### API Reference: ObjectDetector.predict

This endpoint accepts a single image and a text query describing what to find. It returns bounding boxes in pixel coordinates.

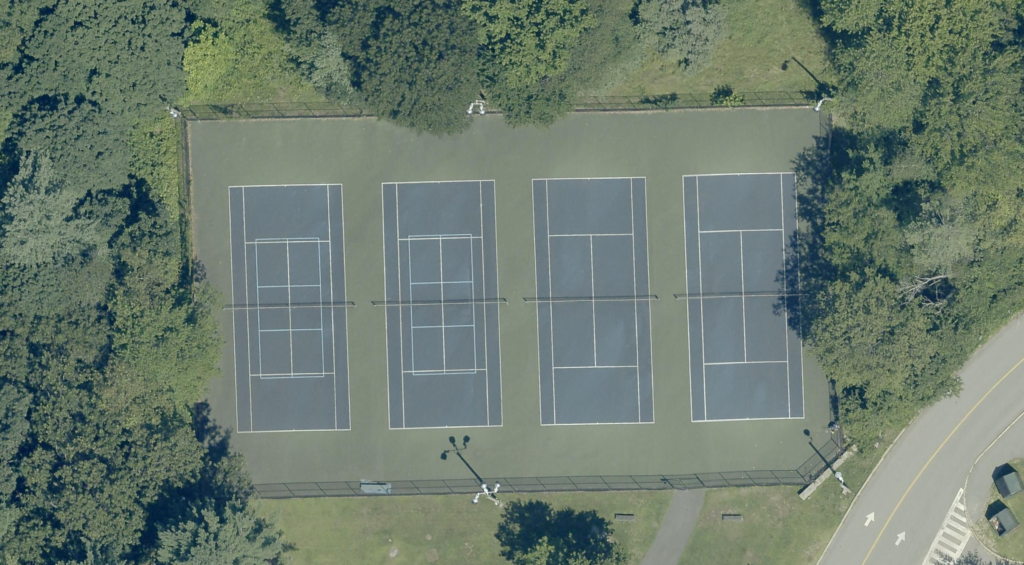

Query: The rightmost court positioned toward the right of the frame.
[682,172,805,422]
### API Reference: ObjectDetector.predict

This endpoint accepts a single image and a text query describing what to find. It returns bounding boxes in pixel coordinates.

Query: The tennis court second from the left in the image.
[382,180,503,429]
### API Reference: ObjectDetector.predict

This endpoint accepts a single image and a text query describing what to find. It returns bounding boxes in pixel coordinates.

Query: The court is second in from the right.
[532,177,655,425]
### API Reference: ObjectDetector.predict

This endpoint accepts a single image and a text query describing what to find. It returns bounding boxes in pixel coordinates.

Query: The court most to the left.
[229,184,351,433]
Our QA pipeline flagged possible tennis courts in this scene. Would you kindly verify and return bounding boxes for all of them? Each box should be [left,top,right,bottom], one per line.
[532,177,655,425]
[382,180,503,429]
[682,172,805,422]
[229,184,351,433]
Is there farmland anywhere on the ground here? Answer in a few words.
No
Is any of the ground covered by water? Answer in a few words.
No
